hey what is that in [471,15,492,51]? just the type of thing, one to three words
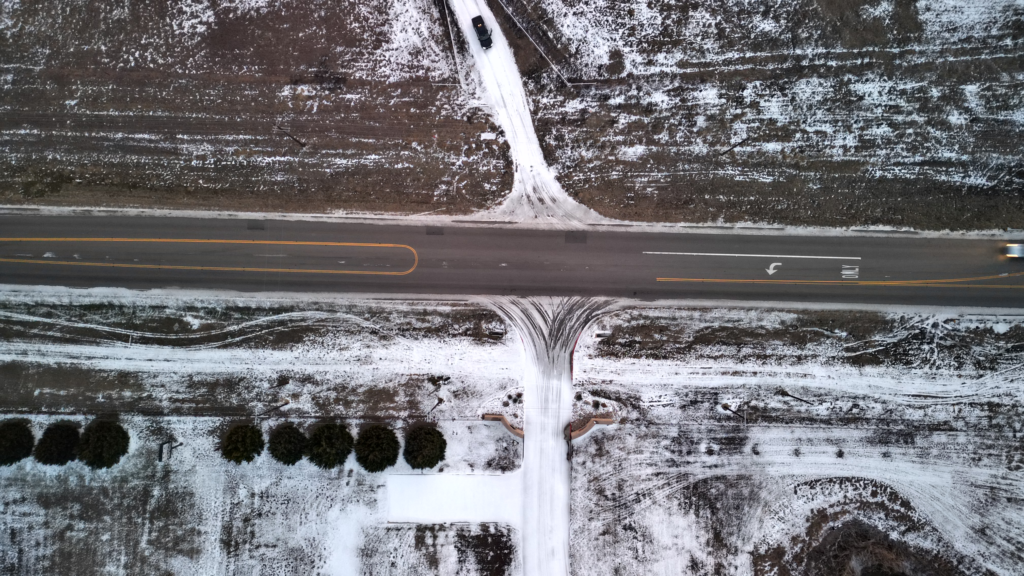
truck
